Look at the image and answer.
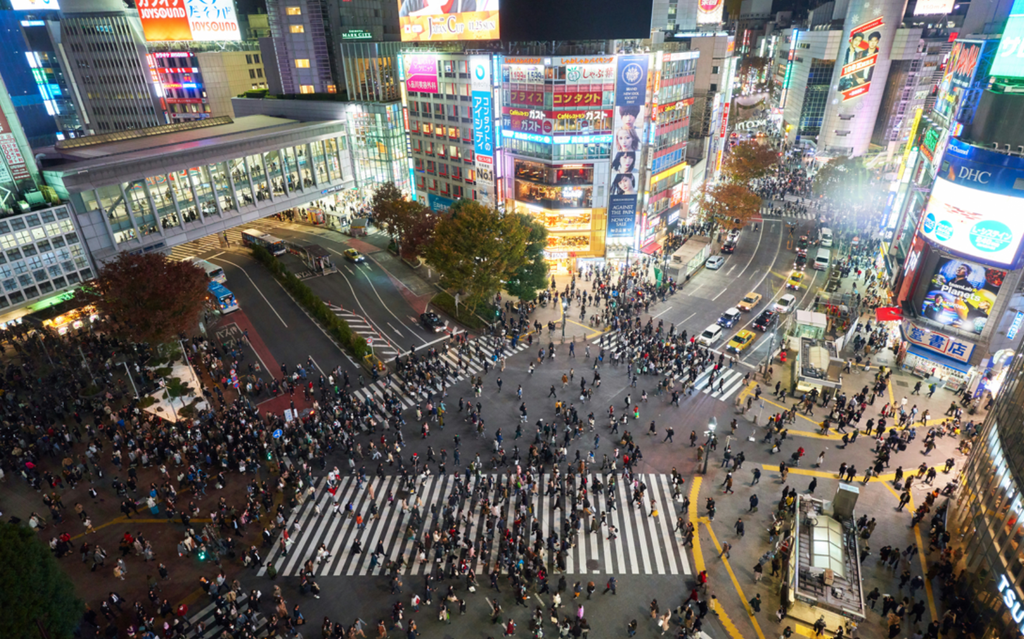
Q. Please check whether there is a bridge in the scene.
Yes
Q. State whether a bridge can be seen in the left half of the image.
Yes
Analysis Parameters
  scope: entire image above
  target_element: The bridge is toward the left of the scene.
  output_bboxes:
[9,108,356,264]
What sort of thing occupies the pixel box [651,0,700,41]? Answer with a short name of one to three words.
building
